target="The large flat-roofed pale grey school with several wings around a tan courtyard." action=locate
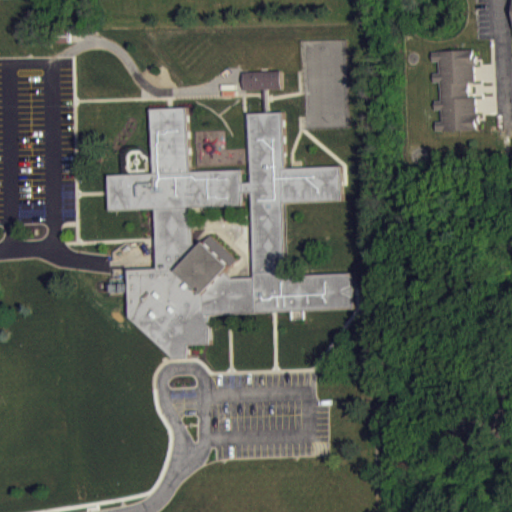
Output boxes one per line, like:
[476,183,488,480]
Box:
[106,108,356,359]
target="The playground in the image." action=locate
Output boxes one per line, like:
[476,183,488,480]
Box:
[195,130,246,168]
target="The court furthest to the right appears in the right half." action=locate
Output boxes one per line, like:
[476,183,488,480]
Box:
[302,40,348,128]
